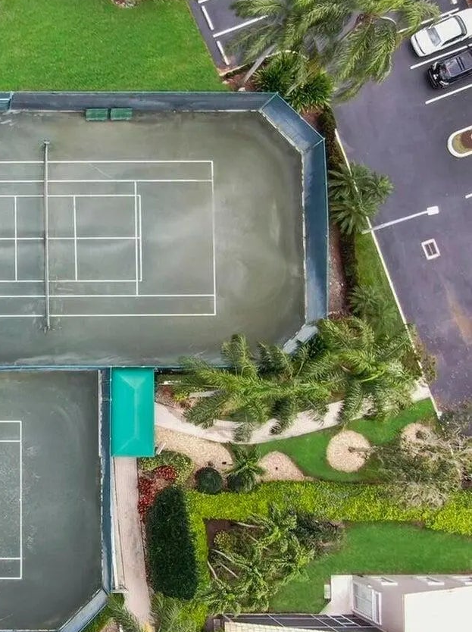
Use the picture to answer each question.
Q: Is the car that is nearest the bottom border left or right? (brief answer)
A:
right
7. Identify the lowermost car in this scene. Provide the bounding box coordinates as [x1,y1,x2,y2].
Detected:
[428,47,472,88]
